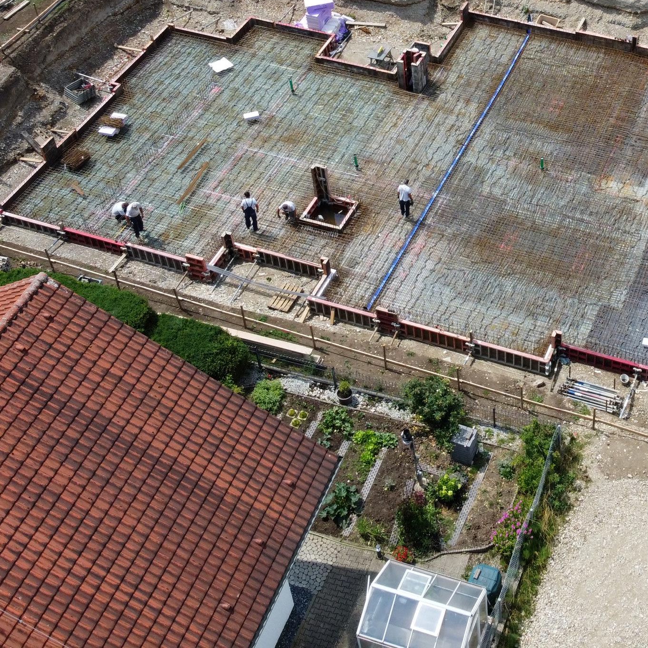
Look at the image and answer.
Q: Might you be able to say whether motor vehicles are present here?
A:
No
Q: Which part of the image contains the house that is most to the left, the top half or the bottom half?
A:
bottom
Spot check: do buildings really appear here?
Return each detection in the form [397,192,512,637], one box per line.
[356,559,489,648]
[0,273,349,648]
